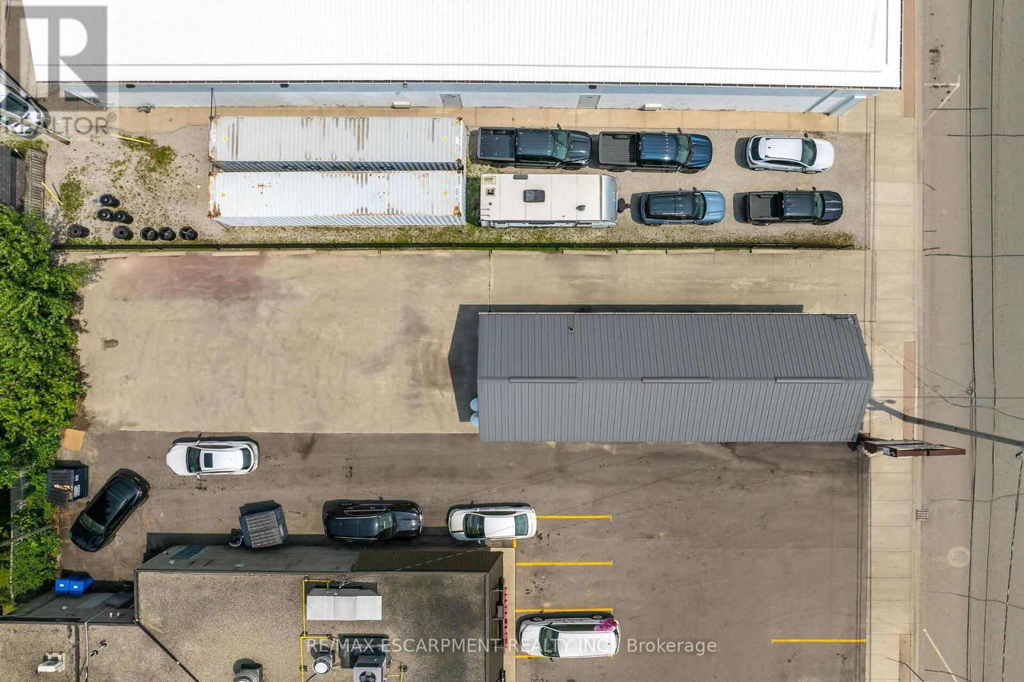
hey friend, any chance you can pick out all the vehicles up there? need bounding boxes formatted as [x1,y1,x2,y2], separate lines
[747,184,845,226]
[519,614,621,664]
[324,505,424,550]
[598,126,713,173]
[448,507,537,549]
[71,467,151,553]
[744,133,834,174]
[0,64,51,137]
[477,121,591,168]
[640,186,725,226]
[166,440,262,481]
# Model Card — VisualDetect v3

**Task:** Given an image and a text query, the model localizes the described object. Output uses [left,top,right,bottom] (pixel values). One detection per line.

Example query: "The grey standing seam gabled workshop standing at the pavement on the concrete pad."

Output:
[477,312,873,442]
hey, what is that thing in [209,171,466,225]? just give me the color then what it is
white shipping container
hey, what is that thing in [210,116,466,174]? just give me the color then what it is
white shipping container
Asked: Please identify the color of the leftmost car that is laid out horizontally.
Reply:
white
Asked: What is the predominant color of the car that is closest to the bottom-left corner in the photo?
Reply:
black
